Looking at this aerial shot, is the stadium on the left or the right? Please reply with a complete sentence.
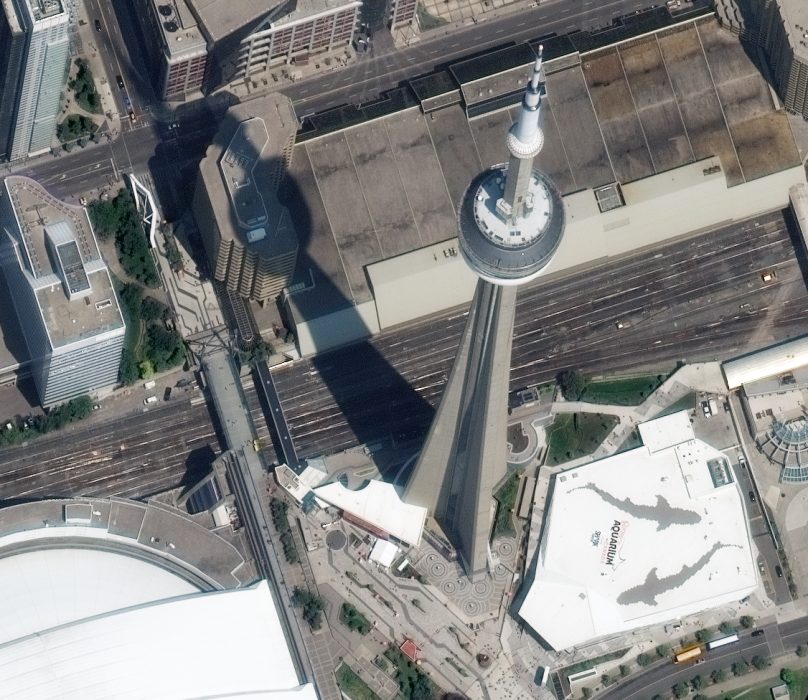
The stadium appears in the left half of the scene.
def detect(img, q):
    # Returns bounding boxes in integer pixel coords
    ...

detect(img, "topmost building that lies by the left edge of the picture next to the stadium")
[0,175,125,405]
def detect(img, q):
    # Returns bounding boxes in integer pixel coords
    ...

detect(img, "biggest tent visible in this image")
[368,538,398,571]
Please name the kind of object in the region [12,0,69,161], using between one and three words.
building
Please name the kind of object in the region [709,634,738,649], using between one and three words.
vehicle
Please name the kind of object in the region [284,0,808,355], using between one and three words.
building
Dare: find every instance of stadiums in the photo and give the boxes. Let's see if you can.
[0,494,316,700]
